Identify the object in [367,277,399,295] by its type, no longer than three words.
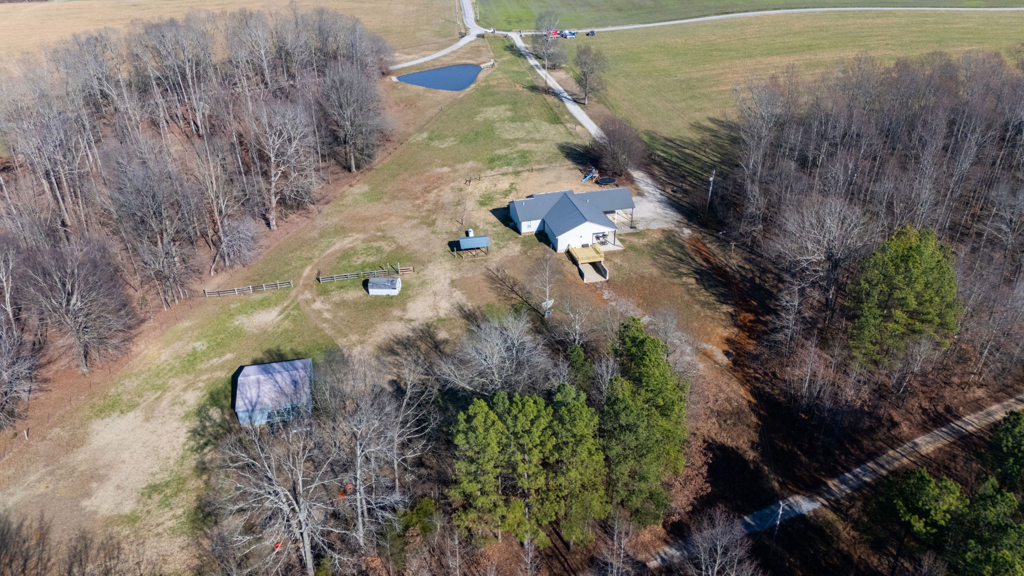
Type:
shed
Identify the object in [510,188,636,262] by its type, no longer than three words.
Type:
house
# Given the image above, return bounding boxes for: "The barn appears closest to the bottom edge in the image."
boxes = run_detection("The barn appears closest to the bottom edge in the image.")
[235,358,316,431]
